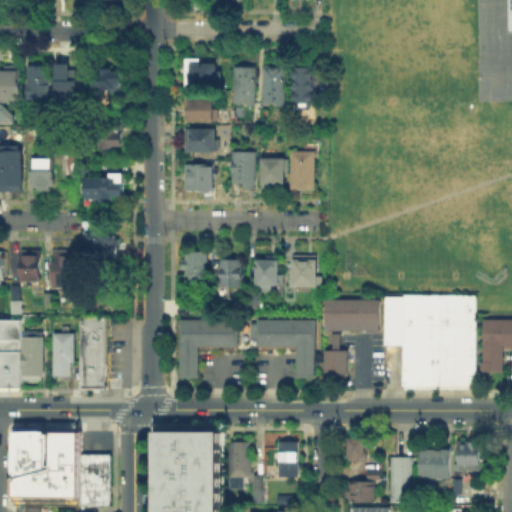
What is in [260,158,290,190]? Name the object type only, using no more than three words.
house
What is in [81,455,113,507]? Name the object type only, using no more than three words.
building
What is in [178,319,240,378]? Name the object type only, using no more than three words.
building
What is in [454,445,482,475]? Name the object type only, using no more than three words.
house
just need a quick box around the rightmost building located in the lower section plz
[480,319,512,374]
